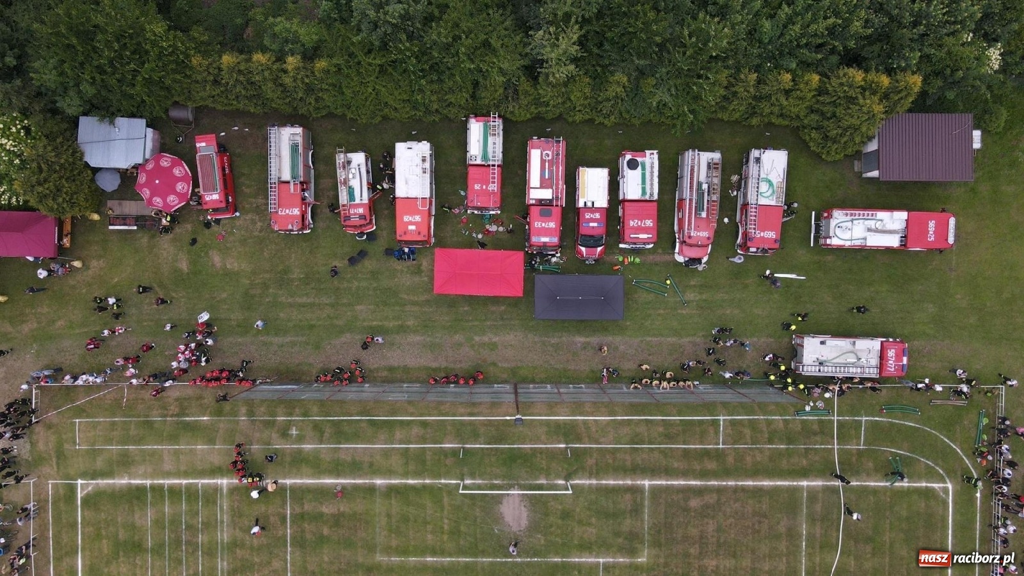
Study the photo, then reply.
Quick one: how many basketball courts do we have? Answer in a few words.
0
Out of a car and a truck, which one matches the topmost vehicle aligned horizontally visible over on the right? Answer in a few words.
truck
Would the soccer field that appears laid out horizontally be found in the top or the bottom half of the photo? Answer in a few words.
bottom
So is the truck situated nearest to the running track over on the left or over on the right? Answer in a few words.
right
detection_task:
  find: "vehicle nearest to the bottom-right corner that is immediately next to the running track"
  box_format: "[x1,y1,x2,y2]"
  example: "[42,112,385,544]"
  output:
[789,334,908,380]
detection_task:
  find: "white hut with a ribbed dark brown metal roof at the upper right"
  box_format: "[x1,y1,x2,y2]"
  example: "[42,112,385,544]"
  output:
[859,113,974,183]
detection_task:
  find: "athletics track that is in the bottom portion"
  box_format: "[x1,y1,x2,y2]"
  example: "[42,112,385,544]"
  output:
[73,411,979,576]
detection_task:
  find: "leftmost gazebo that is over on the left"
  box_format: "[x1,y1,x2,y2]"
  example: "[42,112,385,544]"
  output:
[0,211,78,258]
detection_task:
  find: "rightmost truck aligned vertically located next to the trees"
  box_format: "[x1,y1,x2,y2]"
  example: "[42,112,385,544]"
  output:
[730,147,787,254]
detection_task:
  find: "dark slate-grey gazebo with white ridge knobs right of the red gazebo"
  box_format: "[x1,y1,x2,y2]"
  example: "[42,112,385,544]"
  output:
[534,274,624,320]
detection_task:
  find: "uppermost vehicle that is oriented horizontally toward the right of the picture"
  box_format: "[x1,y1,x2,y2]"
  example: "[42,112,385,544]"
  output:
[810,208,955,256]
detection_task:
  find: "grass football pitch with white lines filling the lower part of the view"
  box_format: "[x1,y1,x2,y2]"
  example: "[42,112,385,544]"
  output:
[48,480,951,576]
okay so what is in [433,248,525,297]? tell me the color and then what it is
red gazebo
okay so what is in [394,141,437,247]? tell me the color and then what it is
white truck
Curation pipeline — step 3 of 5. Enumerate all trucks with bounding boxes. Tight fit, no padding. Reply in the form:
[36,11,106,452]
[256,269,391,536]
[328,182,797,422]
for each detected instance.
[195,133,239,221]
[670,149,721,263]
[789,334,908,380]
[464,113,506,214]
[268,125,318,234]
[573,168,609,265]
[394,141,437,247]
[616,151,659,249]
[523,137,566,254]
[810,208,955,256]
[730,147,787,254]
[336,147,379,240]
